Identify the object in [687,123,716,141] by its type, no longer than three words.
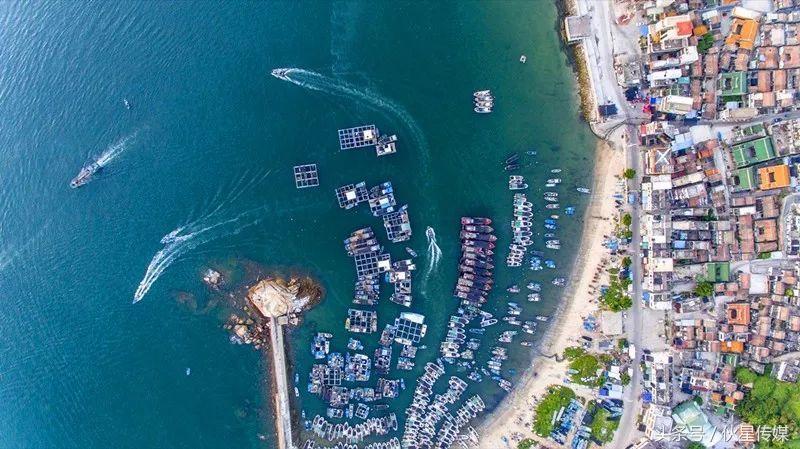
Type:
house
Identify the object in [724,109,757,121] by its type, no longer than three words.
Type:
house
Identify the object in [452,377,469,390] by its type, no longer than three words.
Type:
boat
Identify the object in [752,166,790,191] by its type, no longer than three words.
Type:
building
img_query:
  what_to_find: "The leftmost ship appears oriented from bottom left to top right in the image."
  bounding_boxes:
[69,163,98,187]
